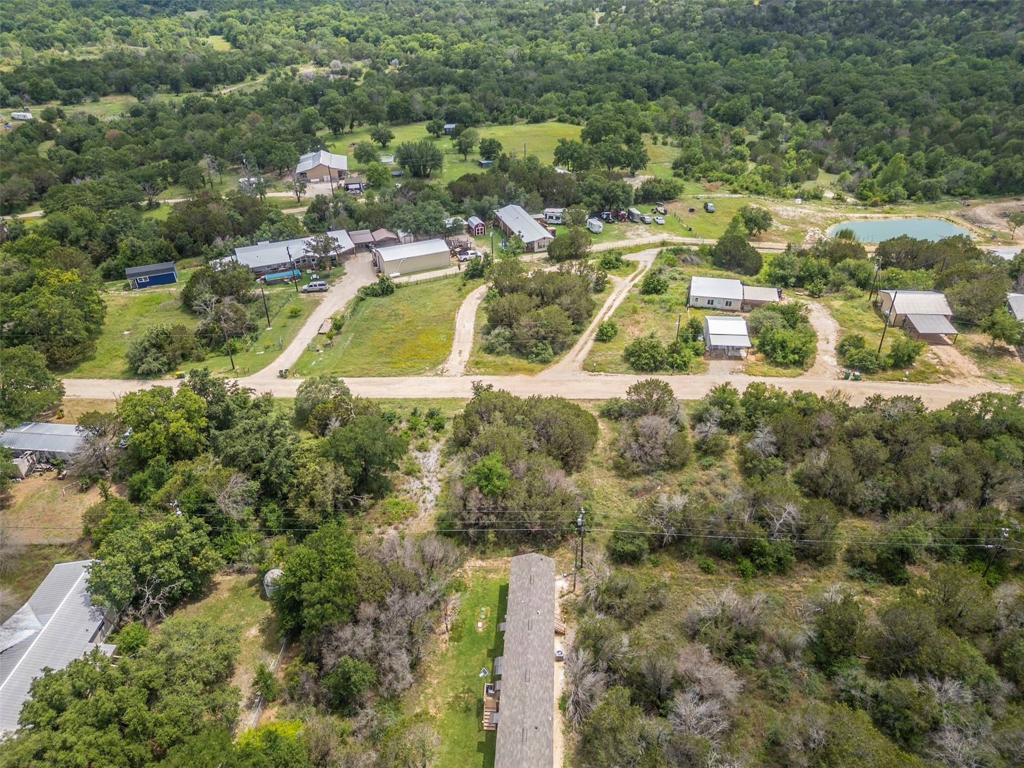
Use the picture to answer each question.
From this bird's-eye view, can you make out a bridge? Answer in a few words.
No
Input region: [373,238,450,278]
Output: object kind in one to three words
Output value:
building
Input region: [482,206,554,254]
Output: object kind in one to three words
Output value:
house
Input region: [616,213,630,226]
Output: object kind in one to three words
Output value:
vehicle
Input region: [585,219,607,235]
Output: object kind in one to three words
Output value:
vehicle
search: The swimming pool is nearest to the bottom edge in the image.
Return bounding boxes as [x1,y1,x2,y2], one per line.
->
[263,270,302,283]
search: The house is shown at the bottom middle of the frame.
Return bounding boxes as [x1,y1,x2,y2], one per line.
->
[489,554,554,768]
